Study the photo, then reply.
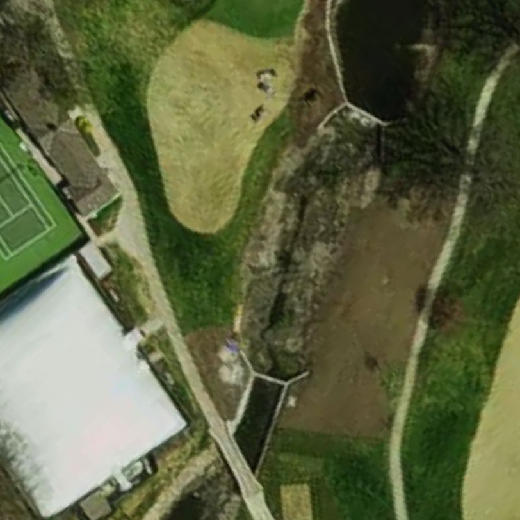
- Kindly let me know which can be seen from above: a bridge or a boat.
bridge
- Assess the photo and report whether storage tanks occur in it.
No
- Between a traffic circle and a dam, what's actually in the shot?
dam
